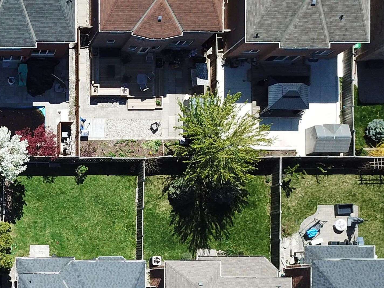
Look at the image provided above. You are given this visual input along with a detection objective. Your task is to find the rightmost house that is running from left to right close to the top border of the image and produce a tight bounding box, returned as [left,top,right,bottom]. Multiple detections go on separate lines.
[226,0,371,63]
